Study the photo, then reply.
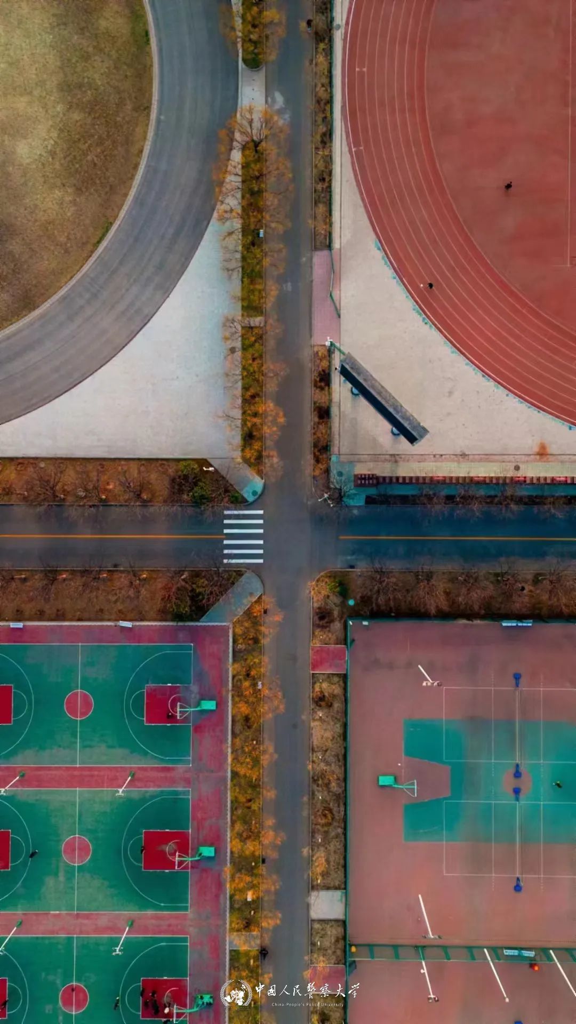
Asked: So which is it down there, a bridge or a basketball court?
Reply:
basketball court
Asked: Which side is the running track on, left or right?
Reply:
right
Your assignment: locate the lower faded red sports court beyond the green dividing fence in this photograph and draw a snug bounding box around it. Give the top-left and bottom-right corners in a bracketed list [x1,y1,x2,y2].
[346,947,576,1024]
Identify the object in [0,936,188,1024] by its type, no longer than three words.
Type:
basketball court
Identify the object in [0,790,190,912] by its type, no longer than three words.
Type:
basketball court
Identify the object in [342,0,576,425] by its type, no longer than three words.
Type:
running track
